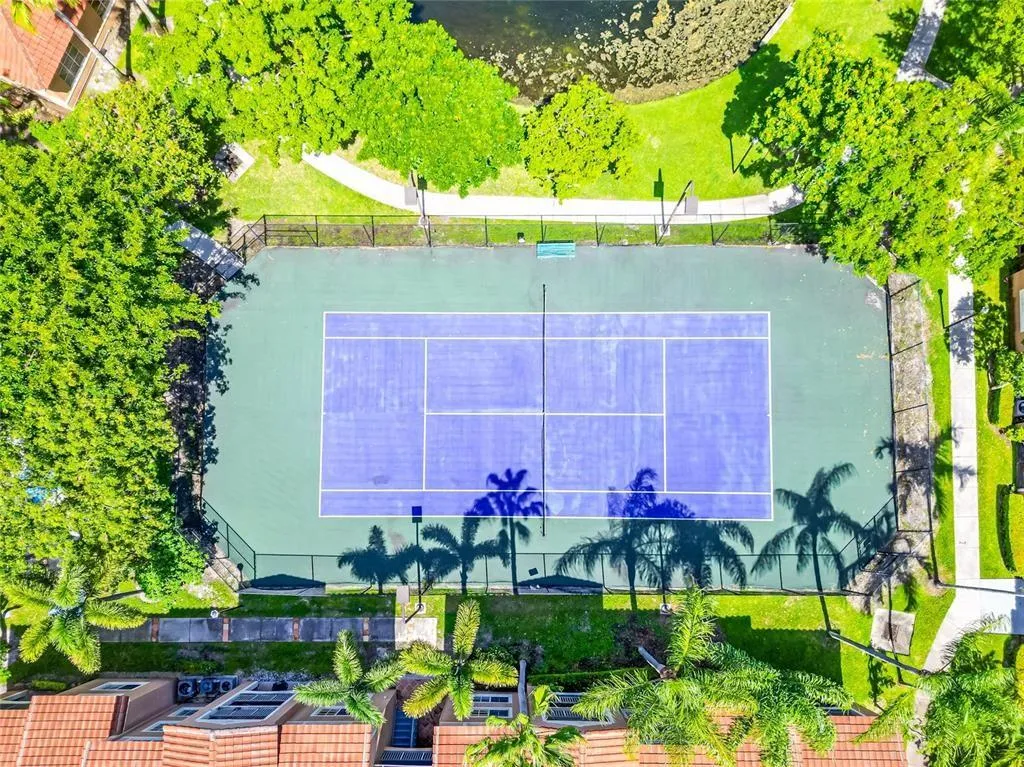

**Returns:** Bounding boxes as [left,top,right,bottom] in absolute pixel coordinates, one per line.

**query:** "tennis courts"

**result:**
[203,247,898,591]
